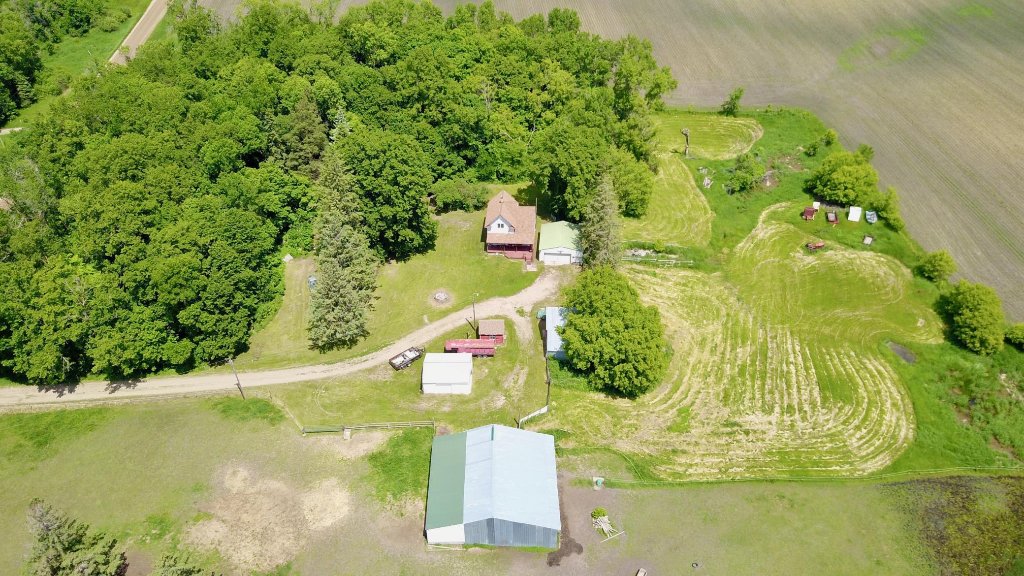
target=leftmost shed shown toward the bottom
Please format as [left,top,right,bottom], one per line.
[421,352,473,394]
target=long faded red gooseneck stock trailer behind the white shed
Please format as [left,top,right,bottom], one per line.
[445,340,494,359]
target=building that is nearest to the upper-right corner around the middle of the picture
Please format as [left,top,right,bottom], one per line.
[539,218,585,262]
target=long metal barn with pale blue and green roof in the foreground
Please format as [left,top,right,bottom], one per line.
[425,423,559,545]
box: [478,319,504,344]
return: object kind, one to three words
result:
shed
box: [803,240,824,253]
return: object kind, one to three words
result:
vehicle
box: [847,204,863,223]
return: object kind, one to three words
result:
vehicle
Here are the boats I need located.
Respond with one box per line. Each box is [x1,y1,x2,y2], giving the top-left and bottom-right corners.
[866,210,878,224]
